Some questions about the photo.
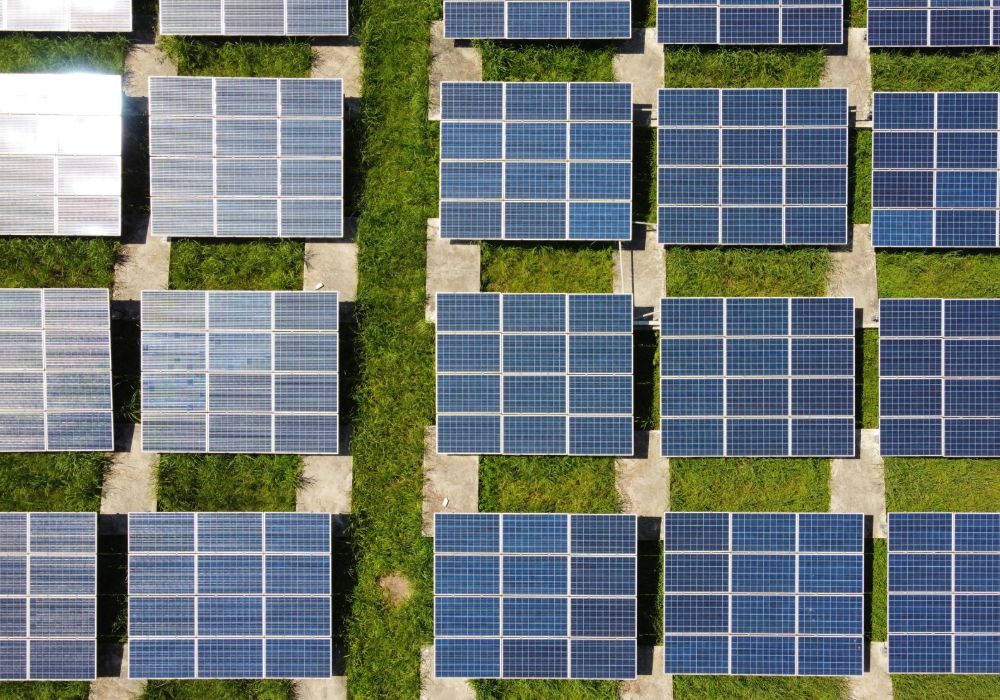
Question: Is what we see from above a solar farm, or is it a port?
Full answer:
This image shows a solar farm.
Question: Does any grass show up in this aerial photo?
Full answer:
Yes, the picture does contain grass.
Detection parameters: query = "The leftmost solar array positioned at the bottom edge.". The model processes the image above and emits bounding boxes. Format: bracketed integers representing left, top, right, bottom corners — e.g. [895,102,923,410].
[0,514,108,679]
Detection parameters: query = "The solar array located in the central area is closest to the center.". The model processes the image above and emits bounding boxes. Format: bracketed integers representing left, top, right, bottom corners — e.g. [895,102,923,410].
[437,293,634,454]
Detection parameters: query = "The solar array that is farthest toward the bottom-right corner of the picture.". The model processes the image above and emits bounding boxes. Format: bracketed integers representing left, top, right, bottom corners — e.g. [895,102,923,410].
[876,512,1000,675]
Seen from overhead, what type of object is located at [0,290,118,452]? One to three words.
solar array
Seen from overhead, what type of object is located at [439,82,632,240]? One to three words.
solar array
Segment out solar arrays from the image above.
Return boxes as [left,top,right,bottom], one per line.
[160,0,349,39]
[0,514,108,679]
[862,92,1000,248]
[0,77,133,235]
[439,82,632,240]
[435,514,638,679]
[437,293,634,454]
[656,298,854,457]
[654,88,848,244]
[661,512,864,676]
[0,290,118,452]
[868,298,1000,457]
[0,0,138,35]
[128,513,334,678]
[149,78,345,235]
[656,0,843,47]
[876,512,1000,675]
[142,291,341,452]
[443,0,632,43]
[862,0,1000,50]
